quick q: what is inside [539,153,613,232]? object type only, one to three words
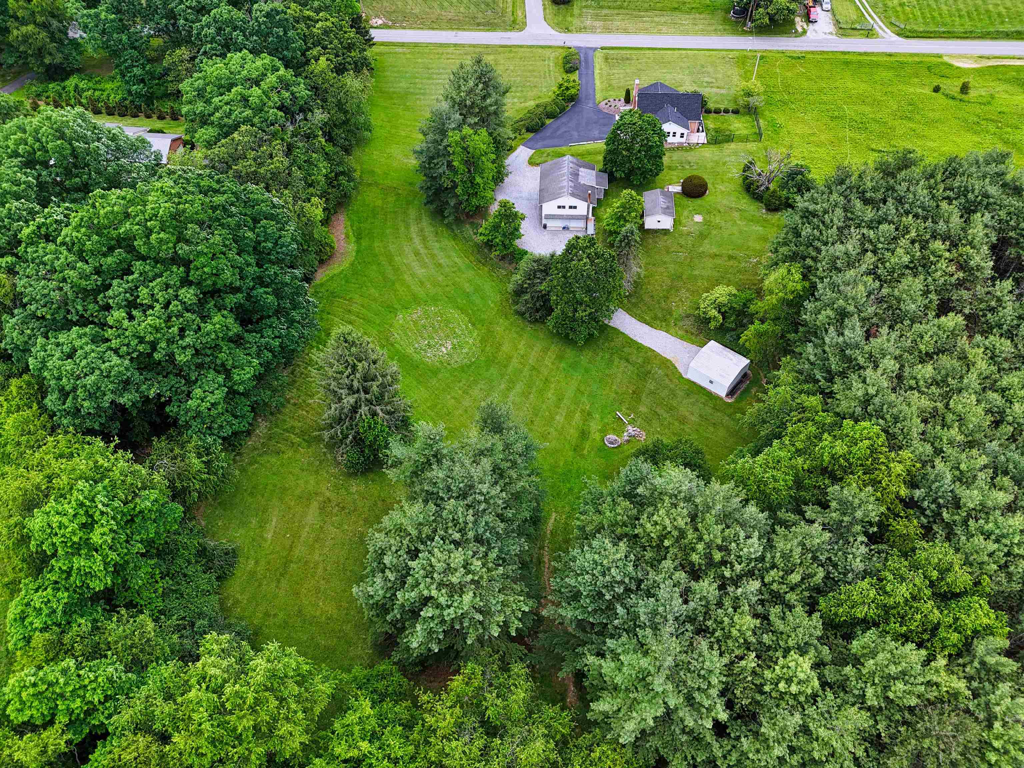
building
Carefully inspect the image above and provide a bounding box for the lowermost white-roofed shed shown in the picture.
[686,339,751,397]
